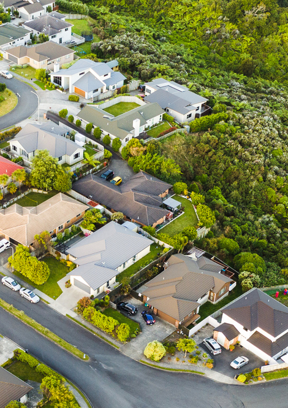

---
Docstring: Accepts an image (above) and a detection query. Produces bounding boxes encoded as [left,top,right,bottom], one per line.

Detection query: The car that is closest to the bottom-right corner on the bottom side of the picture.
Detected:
[225,354,255,371]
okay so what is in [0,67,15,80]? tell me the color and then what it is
white vehicle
